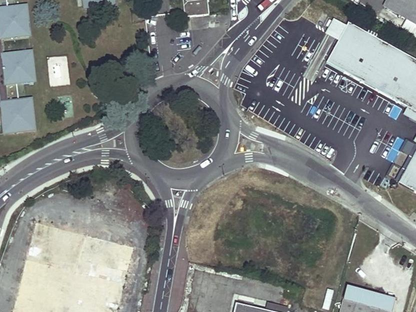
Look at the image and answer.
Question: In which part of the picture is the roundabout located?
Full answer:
The roundabout is located in the center region of the scene.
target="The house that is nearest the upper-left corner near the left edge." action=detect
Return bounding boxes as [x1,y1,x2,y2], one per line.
[0,2,32,39]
